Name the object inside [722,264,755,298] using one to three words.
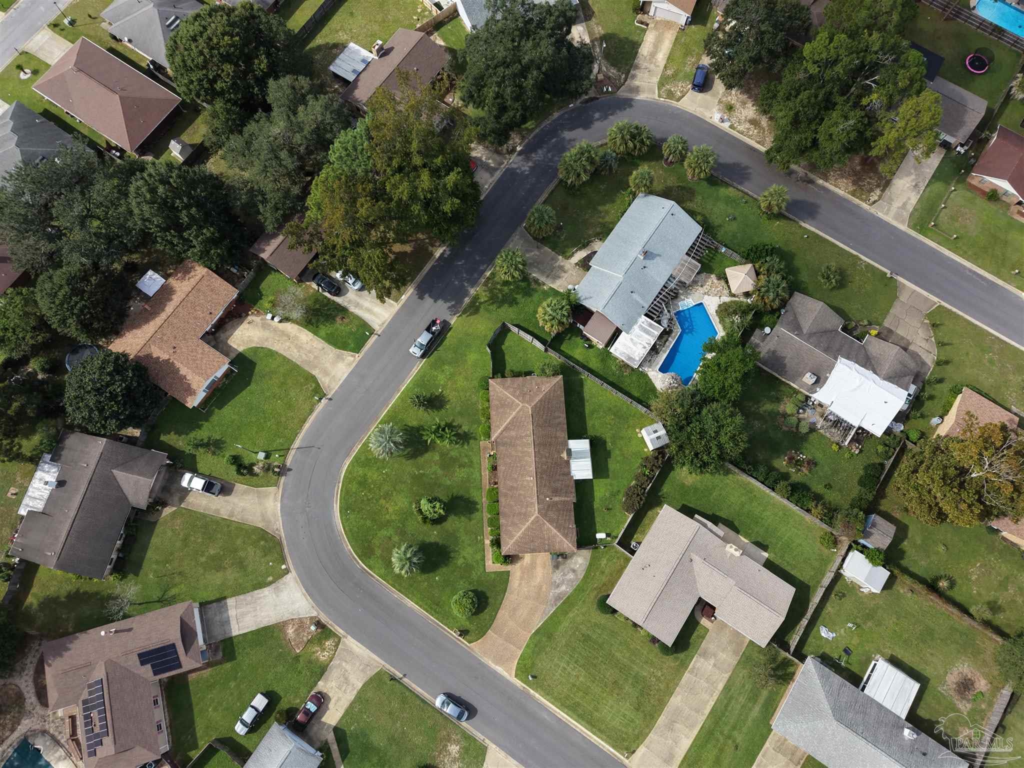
gazebo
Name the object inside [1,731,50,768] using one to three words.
swimming pool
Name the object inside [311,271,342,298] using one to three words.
car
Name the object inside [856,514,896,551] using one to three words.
shed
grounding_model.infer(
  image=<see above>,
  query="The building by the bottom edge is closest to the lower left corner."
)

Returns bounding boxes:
[42,600,209,768]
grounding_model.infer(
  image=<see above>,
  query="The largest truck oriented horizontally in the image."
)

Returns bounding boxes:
[179,472,225,496]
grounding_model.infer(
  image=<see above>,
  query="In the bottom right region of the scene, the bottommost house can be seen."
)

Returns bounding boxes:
[769,656,976,768]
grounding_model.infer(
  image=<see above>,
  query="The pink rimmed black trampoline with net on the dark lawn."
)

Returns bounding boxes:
[962,47,995,75]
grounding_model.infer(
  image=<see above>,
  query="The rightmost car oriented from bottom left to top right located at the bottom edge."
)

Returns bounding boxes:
[293,691,325,731]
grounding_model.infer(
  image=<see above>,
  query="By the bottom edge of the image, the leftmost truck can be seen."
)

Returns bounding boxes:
[233,691,274,735]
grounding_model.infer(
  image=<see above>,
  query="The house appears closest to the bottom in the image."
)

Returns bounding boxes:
[242,720,328,768]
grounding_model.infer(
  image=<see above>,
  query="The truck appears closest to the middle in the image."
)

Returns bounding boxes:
[409,315,447,358]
